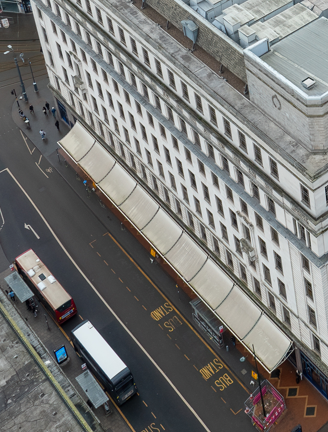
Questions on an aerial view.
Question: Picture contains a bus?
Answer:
Yes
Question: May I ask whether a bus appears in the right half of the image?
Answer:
No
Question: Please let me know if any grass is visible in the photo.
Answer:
No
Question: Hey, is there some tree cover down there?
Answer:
No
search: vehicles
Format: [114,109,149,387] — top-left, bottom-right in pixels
[69,322,140,410]
[16,252,78,324]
